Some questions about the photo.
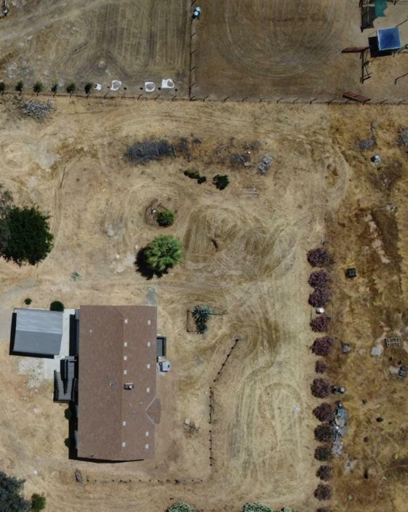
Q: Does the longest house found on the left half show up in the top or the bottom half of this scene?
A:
bottom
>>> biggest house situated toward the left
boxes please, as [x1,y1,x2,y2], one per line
[74,305,162,464]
